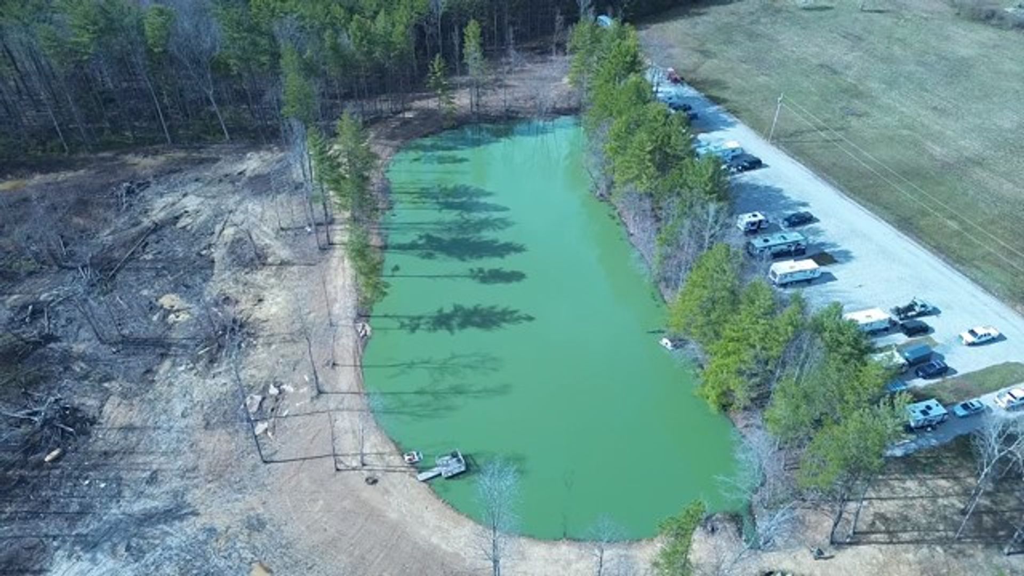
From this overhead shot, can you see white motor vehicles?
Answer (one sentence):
Yes, a white motor vehicle appears in the view.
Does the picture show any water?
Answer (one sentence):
Yes, there's water in this view.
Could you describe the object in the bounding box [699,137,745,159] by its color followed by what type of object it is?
blue vehicle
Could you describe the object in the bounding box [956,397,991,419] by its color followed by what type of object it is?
blue car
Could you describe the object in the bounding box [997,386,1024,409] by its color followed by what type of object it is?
white car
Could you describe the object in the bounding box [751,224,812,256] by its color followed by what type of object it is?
blue camper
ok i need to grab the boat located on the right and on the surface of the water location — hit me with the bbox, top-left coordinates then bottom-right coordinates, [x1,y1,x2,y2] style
[657,336,679,350]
